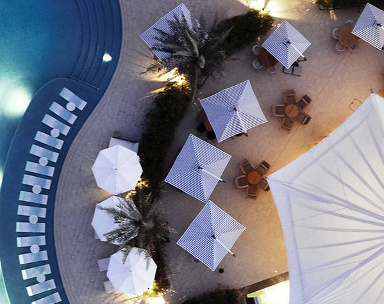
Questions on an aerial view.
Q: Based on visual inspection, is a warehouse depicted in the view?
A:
No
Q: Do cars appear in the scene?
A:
No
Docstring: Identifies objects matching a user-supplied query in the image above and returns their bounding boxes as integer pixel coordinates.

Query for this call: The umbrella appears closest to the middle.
[165,134,231,203]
